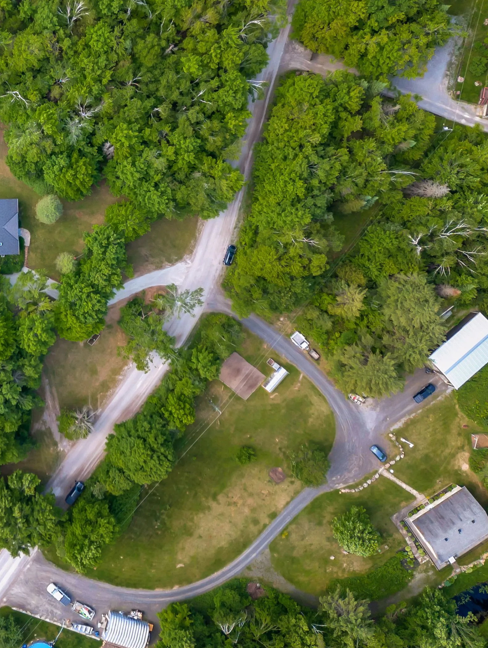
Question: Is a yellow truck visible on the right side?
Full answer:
No, no yellow truck appears on the right side.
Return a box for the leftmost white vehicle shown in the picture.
[47,583,72,611]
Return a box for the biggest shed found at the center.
[215,352,267,400]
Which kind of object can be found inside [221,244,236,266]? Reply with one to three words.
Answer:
car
